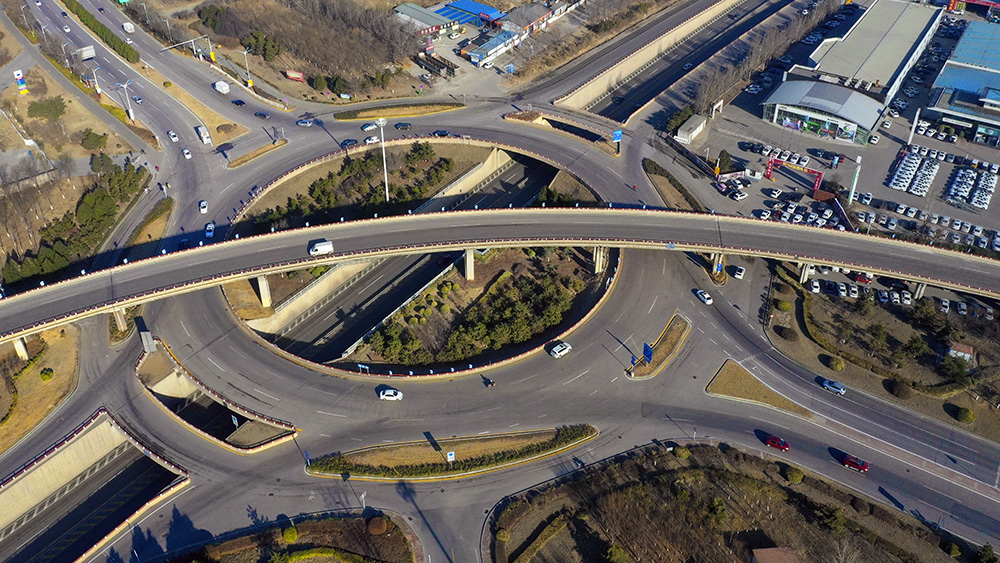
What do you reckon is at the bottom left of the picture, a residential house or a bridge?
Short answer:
bridge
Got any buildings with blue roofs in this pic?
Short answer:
Yes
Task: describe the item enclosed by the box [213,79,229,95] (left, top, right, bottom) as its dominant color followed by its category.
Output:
white vehicle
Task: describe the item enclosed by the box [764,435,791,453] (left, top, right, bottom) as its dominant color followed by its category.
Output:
red car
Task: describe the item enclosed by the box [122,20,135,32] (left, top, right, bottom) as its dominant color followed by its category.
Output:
white vehicle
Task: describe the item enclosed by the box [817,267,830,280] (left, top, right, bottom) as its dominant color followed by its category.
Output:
gray vehicle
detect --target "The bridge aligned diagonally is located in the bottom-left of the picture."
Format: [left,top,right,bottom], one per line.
[105,378,230,481]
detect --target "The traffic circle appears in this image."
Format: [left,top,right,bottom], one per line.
[150,112,686,435]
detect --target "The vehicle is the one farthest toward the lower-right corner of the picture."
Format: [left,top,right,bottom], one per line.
[842,454,870,473]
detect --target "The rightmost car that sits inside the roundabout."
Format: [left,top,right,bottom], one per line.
[550,343,572,358]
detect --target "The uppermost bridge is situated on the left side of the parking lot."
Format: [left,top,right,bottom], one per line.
[535,101,632,139]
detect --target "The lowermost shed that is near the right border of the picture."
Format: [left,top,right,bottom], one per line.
[946,342,973,364]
